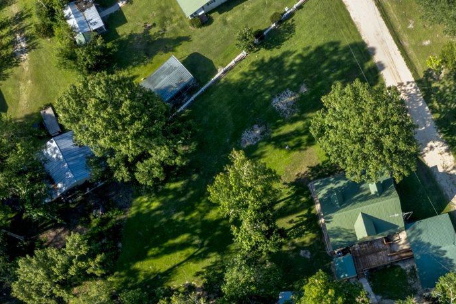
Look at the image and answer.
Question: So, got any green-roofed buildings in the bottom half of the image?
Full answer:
Yes, a green-roofed building is visible in the bottom half of the image.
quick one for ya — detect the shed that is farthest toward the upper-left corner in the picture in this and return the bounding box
[60,0,109,49]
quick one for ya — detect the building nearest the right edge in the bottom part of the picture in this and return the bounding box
[404,212,456,288]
